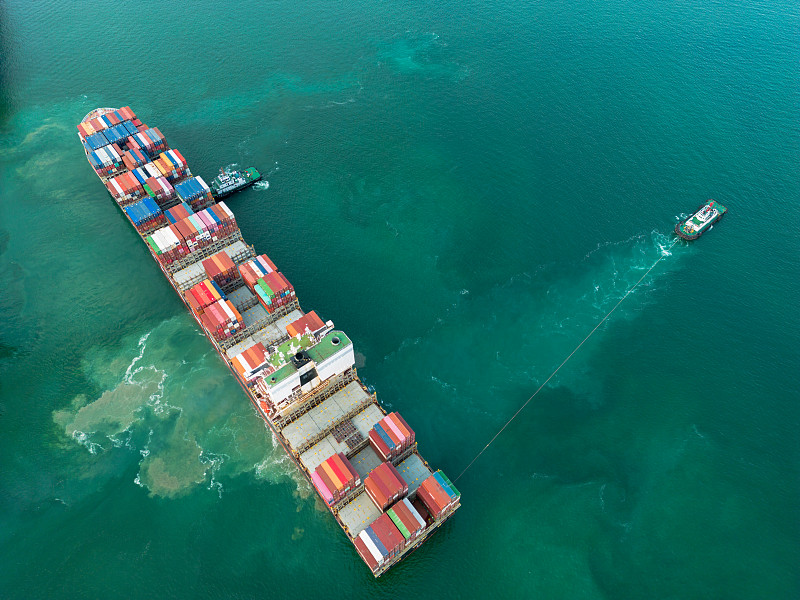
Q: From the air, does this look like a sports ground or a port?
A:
port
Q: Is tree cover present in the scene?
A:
No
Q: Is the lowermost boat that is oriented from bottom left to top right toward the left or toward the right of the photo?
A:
right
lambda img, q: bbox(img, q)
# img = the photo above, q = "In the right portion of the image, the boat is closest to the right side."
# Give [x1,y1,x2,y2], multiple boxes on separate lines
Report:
[675,196,727,240]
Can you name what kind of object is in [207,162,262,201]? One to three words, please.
boat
